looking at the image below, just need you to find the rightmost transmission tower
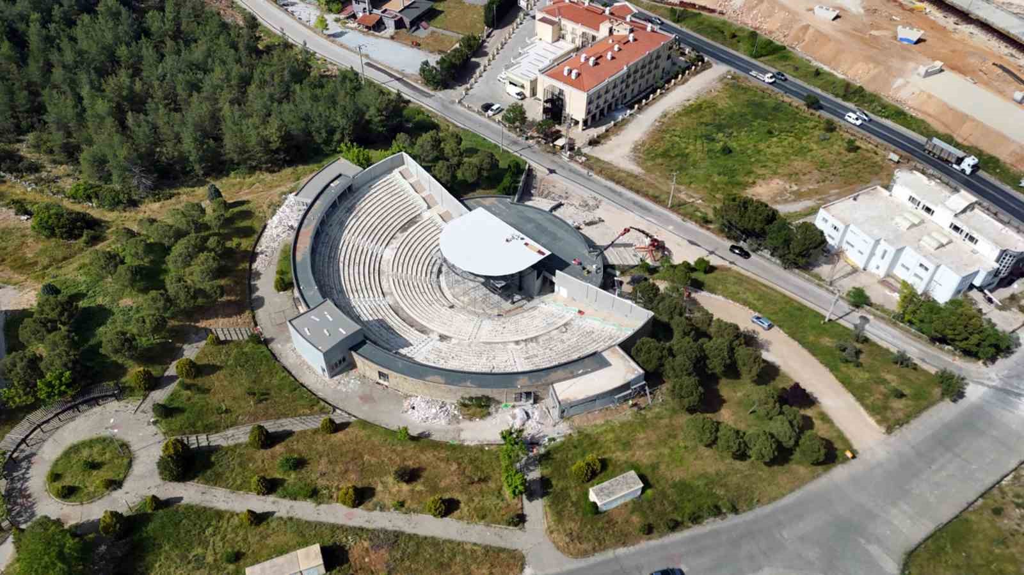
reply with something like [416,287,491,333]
[825,246,852,288]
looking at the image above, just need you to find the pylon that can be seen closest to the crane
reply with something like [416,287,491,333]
[562,116,574,156]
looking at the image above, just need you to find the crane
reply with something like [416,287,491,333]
[595,224,668,264]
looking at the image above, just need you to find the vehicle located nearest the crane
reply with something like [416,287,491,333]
[729,242,752,258]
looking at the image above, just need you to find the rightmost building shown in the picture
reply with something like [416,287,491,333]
[814,168,1024,305]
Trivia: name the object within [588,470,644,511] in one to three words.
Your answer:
shed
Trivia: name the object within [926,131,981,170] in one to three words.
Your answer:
truck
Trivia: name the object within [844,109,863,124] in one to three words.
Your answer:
vehicle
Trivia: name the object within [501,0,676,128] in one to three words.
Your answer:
building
